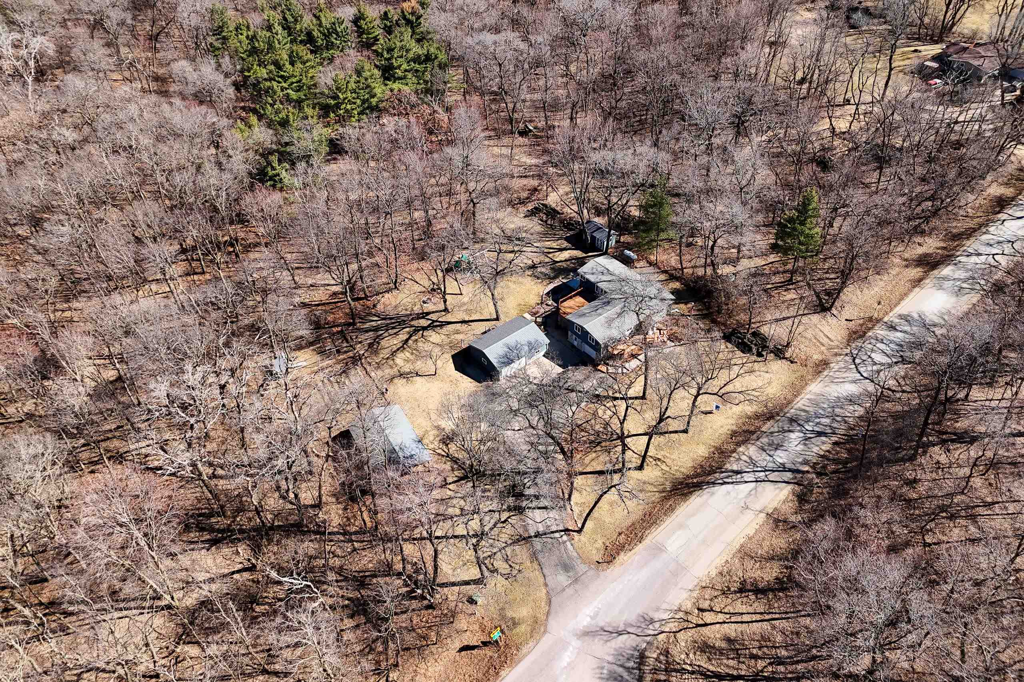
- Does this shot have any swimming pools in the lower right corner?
No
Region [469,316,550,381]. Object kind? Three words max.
building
